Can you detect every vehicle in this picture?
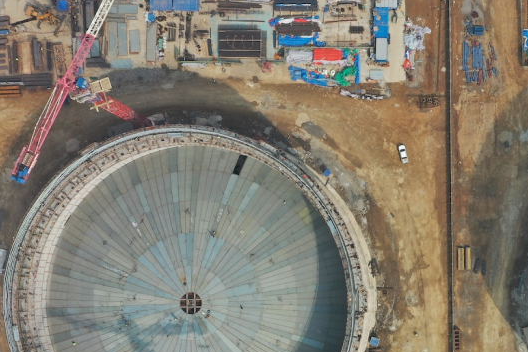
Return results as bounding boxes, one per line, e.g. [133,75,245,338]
[369,252,381,276]
[398,144,408,163]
